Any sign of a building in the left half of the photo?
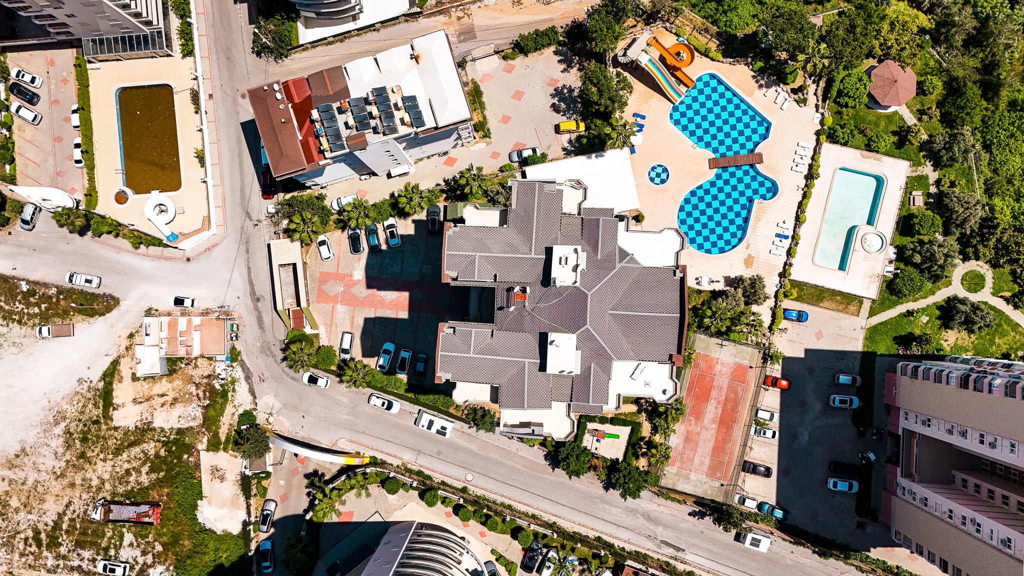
Yes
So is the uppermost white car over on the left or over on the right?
left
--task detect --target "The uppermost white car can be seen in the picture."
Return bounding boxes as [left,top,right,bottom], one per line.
[11,69,44,89]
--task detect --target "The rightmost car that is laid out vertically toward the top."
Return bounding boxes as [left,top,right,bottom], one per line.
[428,206,440,233]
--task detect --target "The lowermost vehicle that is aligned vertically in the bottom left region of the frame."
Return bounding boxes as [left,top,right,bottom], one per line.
[259,539,276,571]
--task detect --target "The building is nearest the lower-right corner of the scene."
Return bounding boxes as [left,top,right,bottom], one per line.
[878,352,1024,576]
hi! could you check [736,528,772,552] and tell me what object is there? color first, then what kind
white vehicle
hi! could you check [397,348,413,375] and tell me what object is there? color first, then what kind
black car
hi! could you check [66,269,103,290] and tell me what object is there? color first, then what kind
white vehicle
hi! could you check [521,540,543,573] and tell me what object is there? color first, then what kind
black car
